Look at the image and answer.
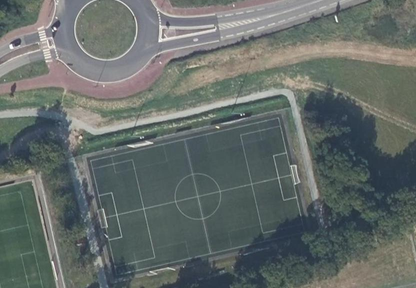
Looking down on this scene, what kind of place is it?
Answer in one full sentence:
The picture captures a sports ground.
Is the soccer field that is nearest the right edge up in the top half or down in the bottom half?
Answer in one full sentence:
You can find the soccer field that is nearest the right edge in the bottom half.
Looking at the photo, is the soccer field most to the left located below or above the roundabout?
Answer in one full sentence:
The soccer field most to the left appears below the roundabout in the picture.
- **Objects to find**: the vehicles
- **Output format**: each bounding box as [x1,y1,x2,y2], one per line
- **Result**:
[52,20,60,30]
[8,40,20,48]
